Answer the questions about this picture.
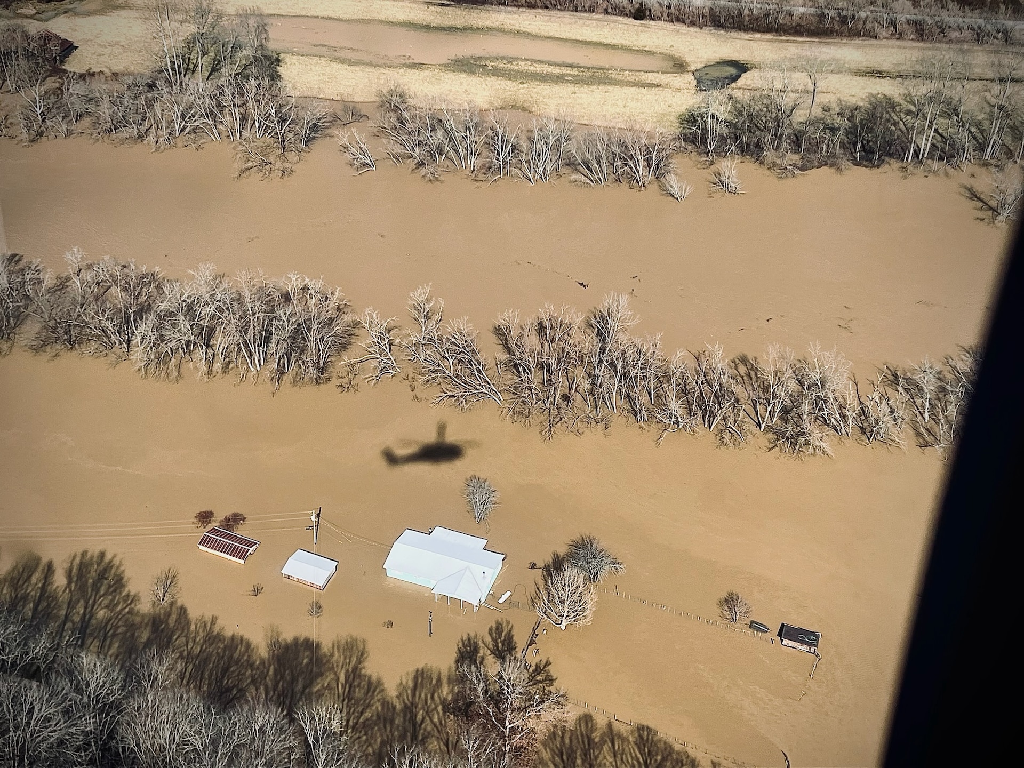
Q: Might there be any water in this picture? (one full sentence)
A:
Yes, the picture does contain water.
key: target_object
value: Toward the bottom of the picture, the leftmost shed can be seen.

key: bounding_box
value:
[196,527,262,564]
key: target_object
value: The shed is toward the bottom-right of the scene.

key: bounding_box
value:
[782,622,822,654]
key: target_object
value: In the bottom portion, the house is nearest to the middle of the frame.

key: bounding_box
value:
[382,526,505,612]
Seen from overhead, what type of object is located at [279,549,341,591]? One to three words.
shed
